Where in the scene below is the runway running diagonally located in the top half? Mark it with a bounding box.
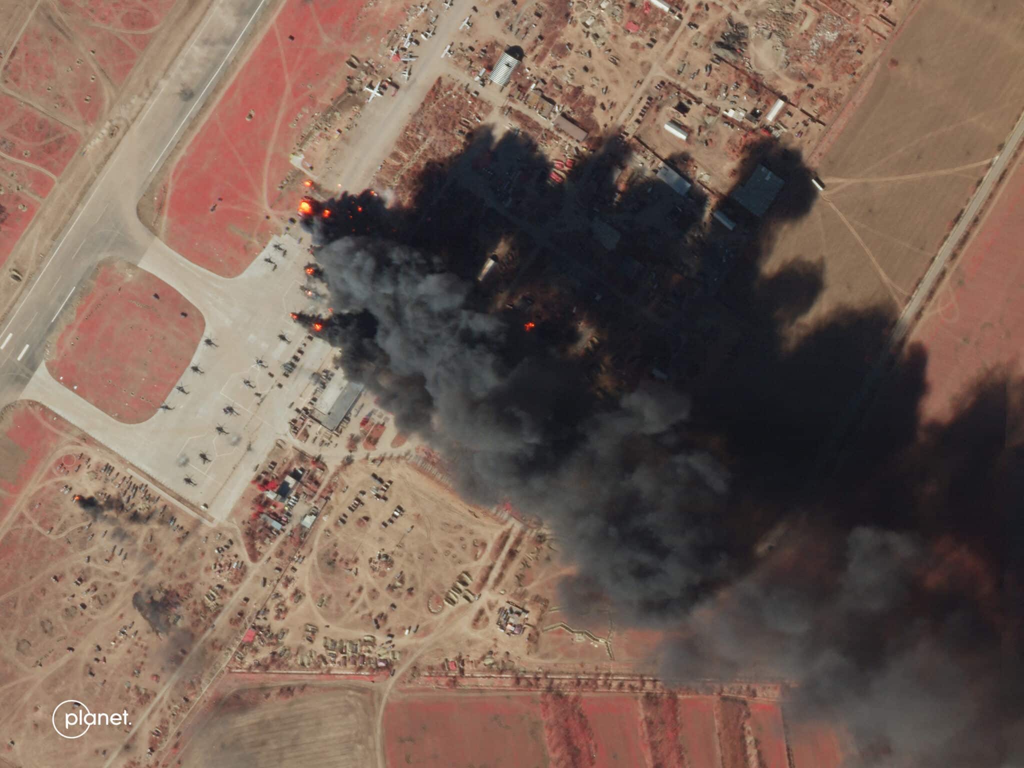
[0,0,276,415]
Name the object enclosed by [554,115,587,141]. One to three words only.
shed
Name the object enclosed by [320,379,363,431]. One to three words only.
building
